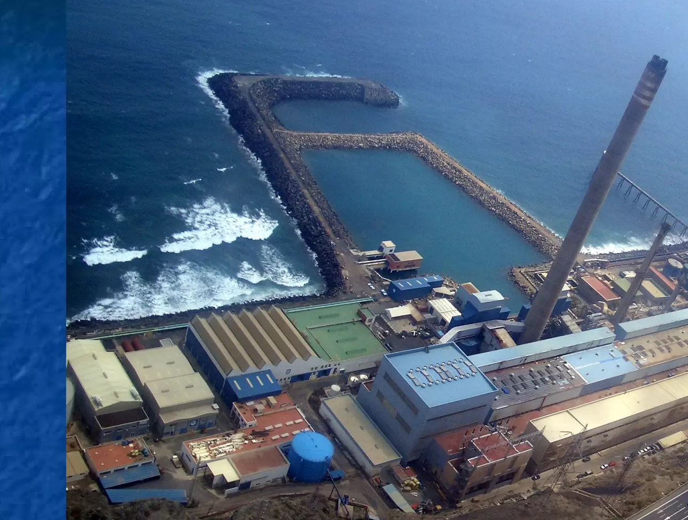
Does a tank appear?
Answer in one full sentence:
Yes, the frame does contain a tank.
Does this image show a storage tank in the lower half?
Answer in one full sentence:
Yes, the scene does show a storage tank in the lower half.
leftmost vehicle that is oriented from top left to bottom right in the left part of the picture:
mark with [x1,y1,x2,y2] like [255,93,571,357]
[169,453,183,469]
